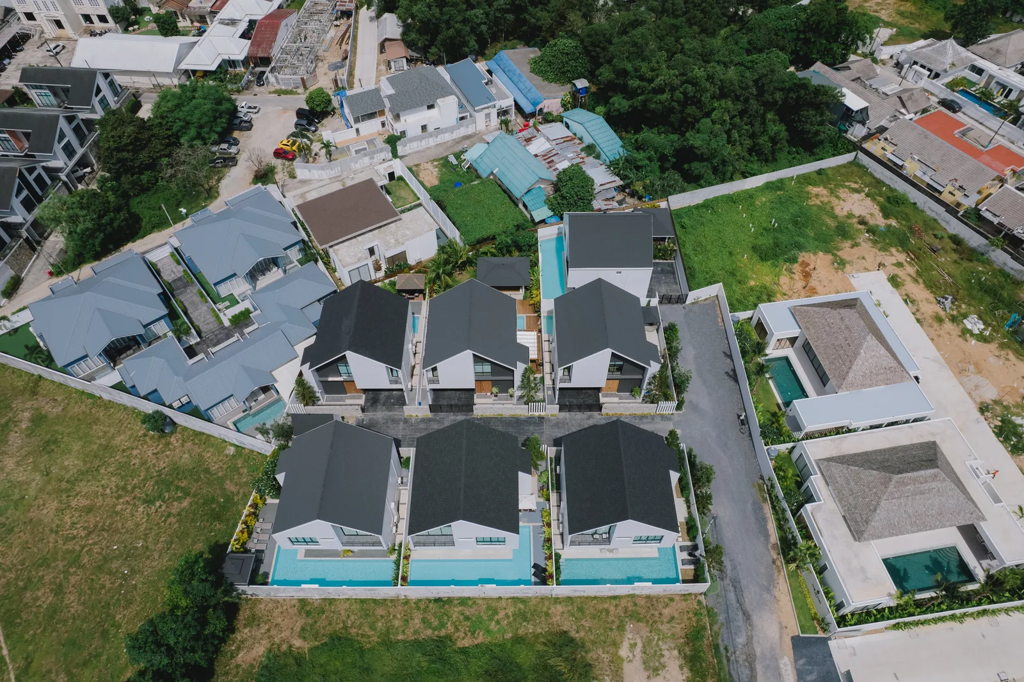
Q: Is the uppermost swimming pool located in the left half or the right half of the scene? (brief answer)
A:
right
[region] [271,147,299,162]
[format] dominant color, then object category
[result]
red car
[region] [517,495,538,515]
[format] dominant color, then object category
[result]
white umbrella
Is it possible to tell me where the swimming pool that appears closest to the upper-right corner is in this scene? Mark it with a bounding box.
[955,90,1010,119]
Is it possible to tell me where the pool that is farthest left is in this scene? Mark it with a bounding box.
[231,398,288,436]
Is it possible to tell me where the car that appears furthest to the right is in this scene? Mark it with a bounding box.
[935,100,962,114]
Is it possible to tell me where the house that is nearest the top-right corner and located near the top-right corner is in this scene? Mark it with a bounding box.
[966,28,1024,75]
